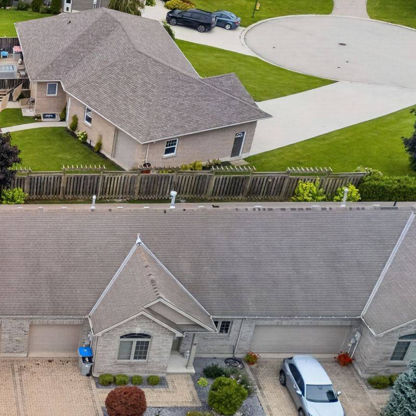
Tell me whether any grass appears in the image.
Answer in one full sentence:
Yes, the picture does contain grass.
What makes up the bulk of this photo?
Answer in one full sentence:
What you mostly see from above here is buildings.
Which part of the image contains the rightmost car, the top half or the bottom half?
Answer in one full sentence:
It is in the bottom half that the rightmost car appears.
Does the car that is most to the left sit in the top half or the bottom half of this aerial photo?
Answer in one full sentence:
Seen from above, the car that is most to the left lies in the top half of the view.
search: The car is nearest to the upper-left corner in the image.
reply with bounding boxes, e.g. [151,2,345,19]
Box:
[170,8,219,32]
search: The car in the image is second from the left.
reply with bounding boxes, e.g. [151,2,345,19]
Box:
[214,11,244,29]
